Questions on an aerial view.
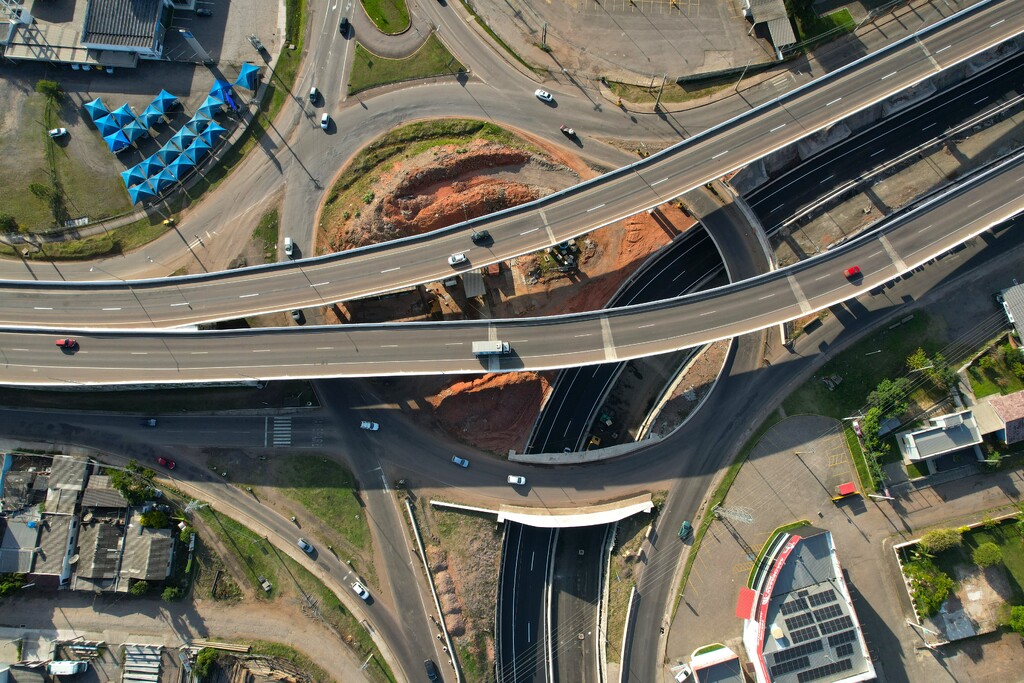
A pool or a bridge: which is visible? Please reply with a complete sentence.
Of the two, only a bridge appears.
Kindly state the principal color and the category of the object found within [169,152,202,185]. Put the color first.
blue tent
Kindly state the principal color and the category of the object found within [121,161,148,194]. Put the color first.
blue tent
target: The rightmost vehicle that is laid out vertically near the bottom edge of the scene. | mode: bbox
[425,660,437,682]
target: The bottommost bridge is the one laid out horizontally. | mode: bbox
[496,433,664,527]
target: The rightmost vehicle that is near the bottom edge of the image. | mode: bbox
[675,662,692,680]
